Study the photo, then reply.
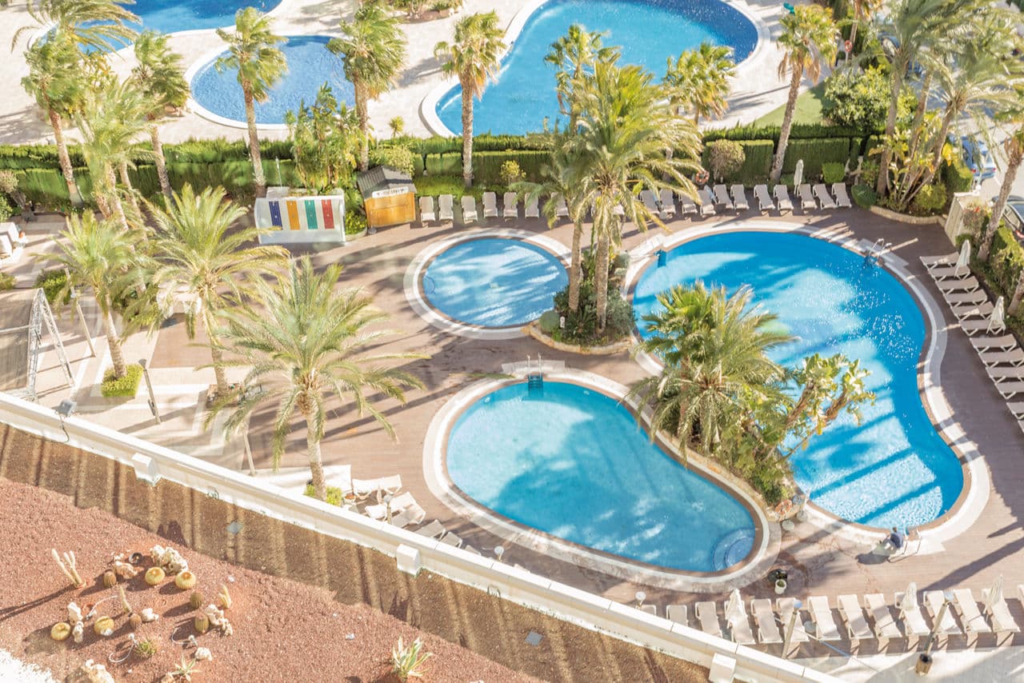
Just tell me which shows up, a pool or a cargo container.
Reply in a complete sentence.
The image shows a pool.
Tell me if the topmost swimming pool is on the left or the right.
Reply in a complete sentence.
It is on the left.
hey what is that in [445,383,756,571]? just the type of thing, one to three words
swimming pool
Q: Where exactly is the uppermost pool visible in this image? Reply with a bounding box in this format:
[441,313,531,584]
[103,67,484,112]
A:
[47,0,280,54]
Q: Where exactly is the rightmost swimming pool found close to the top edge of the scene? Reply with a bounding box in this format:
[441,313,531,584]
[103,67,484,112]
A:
[436,0,757,127]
